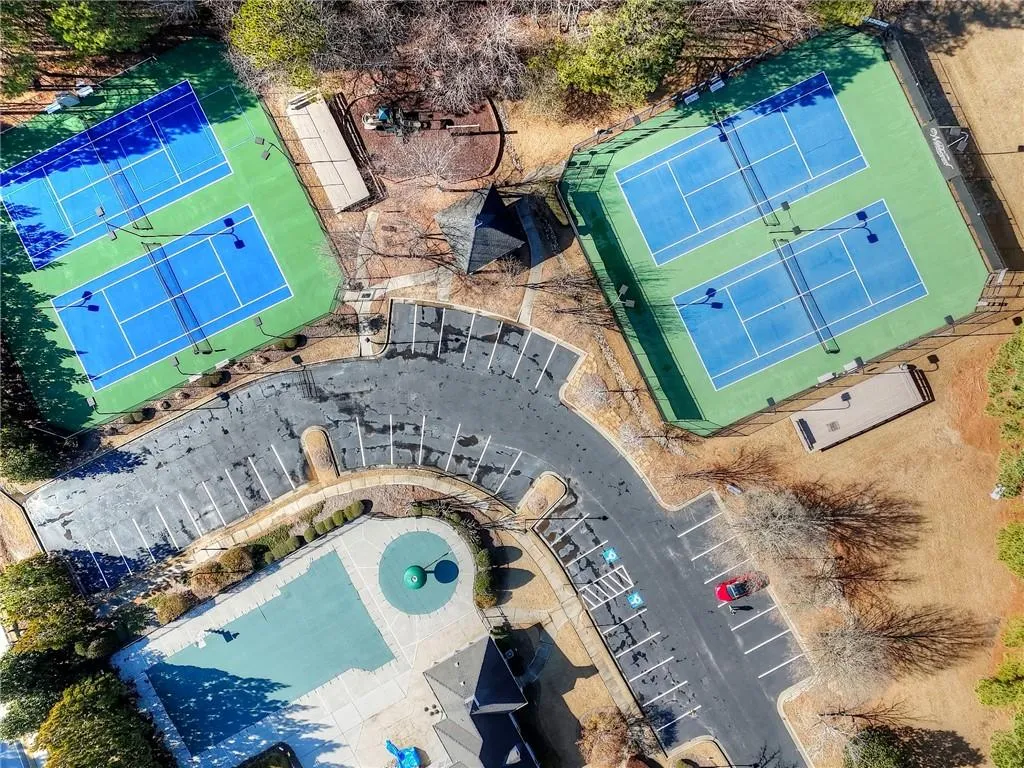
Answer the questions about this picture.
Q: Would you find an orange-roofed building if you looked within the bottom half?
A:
No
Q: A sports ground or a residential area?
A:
sports ground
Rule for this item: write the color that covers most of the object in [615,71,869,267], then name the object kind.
blue tennis court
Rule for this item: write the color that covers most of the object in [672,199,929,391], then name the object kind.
blue tennis court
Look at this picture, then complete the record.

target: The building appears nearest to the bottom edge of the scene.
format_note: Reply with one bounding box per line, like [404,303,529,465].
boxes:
[423,635,549,768]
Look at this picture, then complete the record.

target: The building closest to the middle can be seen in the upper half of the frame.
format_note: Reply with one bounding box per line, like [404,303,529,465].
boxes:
[435,184,527,274]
